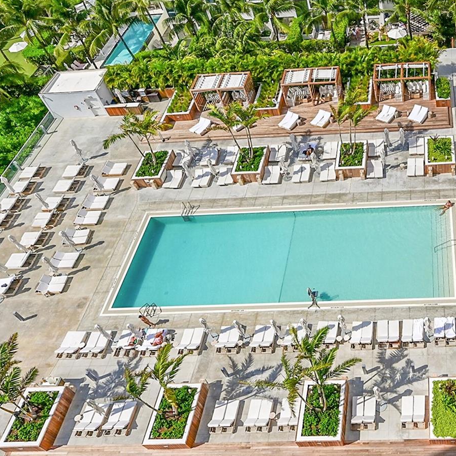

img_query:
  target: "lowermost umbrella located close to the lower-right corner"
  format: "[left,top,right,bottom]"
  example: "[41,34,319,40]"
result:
[373,384,388,411]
